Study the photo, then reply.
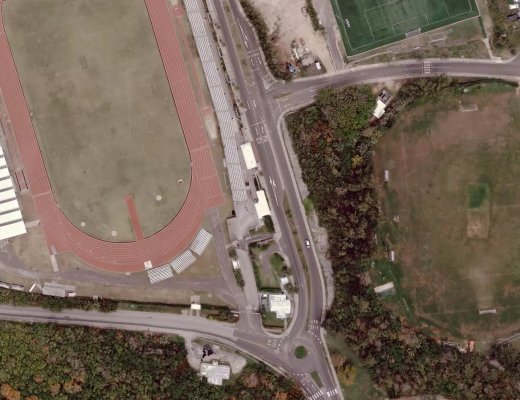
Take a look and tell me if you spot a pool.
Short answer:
No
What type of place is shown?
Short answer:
sports ground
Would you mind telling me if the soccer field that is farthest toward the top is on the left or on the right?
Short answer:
right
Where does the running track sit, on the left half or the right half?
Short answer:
left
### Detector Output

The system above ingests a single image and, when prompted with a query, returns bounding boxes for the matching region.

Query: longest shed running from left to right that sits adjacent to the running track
[43,282,75,296]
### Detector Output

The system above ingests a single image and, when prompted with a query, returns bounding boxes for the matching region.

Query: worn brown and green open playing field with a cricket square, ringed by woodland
[373,83,520,346]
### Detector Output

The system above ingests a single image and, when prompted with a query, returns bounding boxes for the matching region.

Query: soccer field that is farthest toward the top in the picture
[329,0,481,59]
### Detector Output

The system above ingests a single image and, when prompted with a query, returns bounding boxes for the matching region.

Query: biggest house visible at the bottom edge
[201,360,230,385]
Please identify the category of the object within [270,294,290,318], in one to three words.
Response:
house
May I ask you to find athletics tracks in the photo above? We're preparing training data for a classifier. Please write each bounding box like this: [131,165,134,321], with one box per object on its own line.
[0,0,226,273]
